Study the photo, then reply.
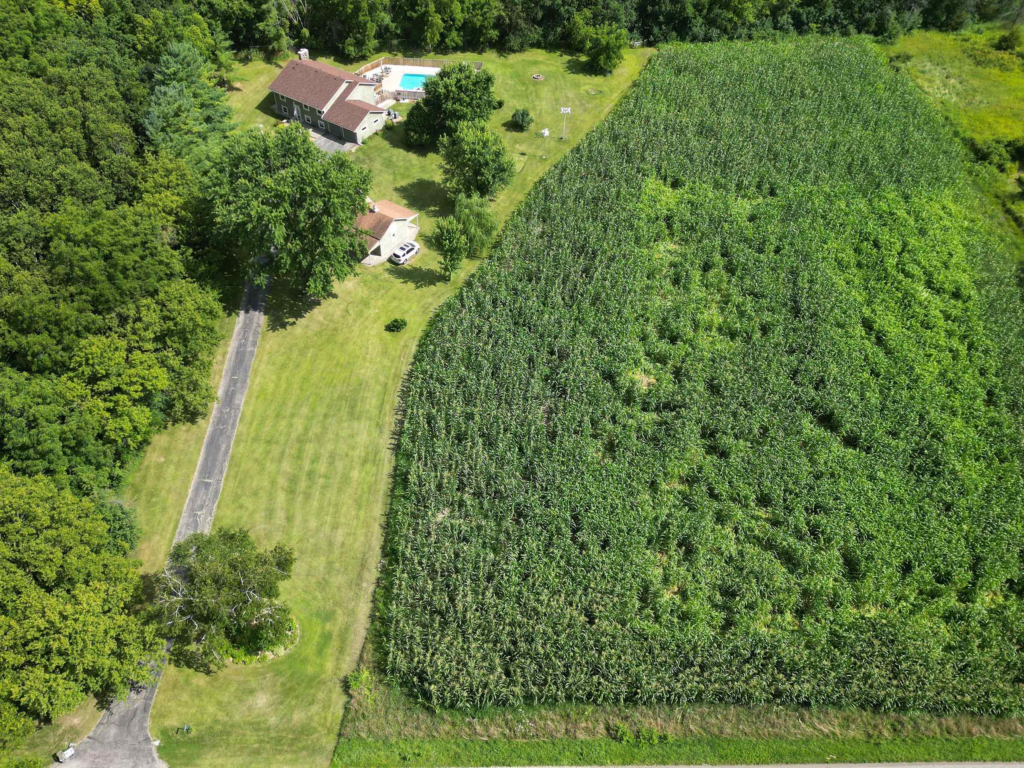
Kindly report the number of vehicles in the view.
1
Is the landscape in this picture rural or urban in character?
rural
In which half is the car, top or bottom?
top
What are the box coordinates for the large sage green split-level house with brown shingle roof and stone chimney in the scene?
[268,45,386,146]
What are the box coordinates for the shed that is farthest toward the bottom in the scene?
[341,199,421,265]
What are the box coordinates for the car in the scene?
[390,241,422,265]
